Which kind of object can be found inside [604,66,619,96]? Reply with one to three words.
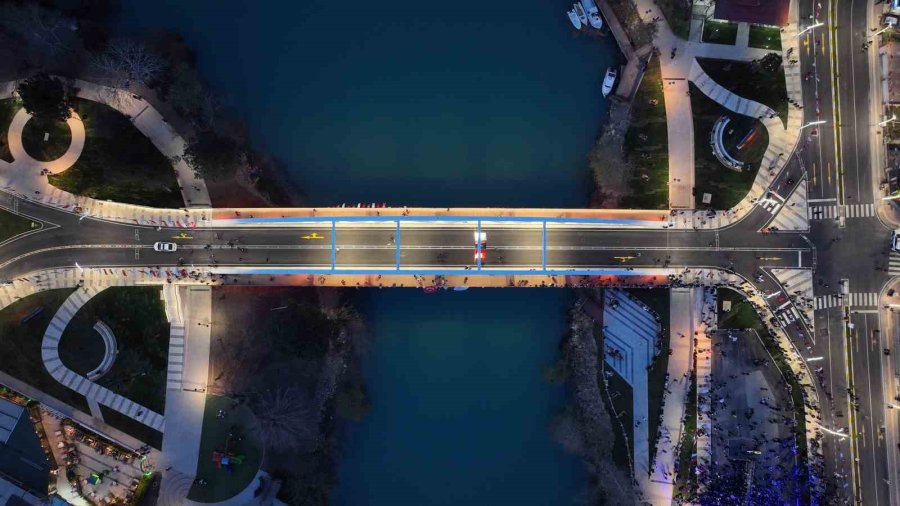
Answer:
boat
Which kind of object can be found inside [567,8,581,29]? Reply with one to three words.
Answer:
boat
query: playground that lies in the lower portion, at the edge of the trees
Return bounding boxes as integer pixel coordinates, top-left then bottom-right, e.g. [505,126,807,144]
[185,394,265,503]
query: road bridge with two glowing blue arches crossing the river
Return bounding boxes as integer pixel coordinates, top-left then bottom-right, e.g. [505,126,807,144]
[211,207,670,288]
